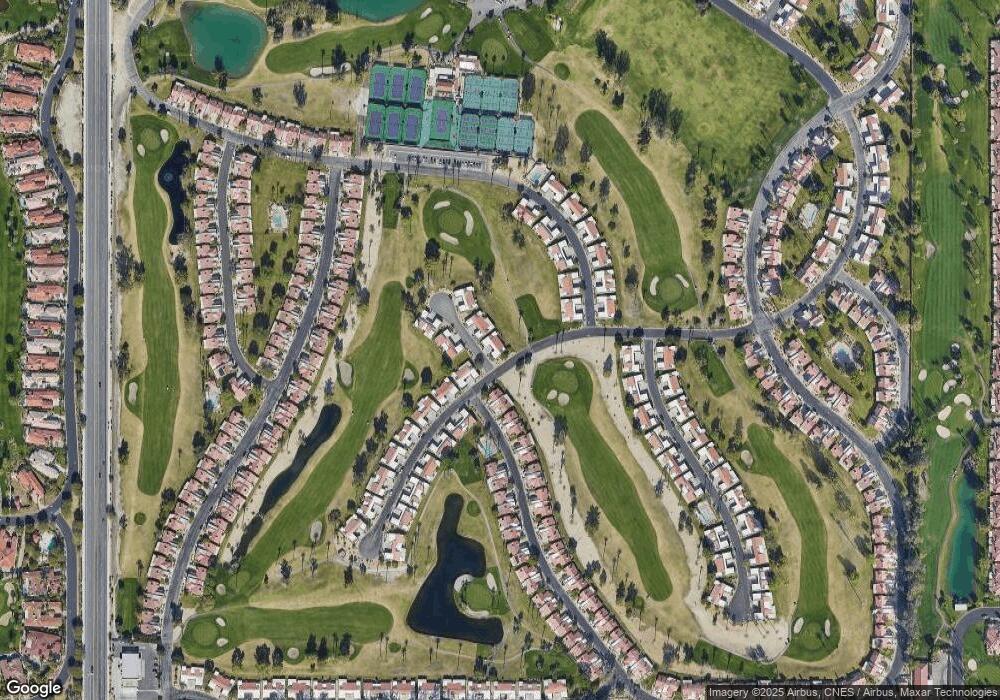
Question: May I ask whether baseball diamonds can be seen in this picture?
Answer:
No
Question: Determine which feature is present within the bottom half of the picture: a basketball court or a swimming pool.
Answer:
swimming pool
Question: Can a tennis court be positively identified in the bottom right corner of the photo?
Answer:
No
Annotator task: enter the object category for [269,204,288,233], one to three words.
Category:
swimming pool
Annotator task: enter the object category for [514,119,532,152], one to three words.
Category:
tennis court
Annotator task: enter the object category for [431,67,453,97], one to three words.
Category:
building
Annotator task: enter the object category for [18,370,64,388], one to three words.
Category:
house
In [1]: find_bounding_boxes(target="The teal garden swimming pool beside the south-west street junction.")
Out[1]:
[40,533,57,551]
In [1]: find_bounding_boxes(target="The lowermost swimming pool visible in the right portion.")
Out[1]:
[696,501,718,526]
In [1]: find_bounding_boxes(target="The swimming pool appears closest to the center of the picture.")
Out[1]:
[479,435,498,459]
